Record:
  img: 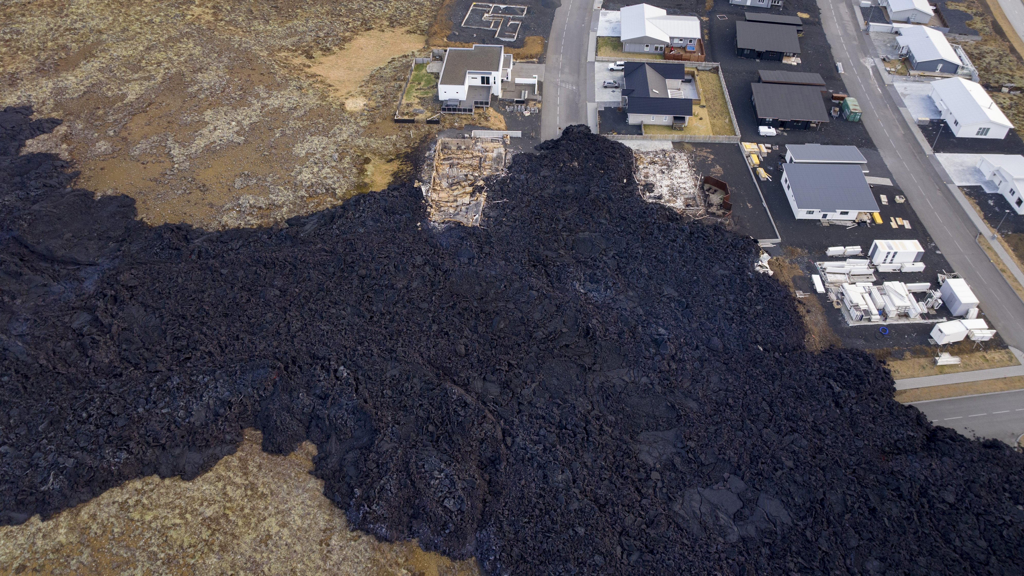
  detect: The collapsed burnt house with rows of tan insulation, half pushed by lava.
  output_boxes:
[427,136,510,228]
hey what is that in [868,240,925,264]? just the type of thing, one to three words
building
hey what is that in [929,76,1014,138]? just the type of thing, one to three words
house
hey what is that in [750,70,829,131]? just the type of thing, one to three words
house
